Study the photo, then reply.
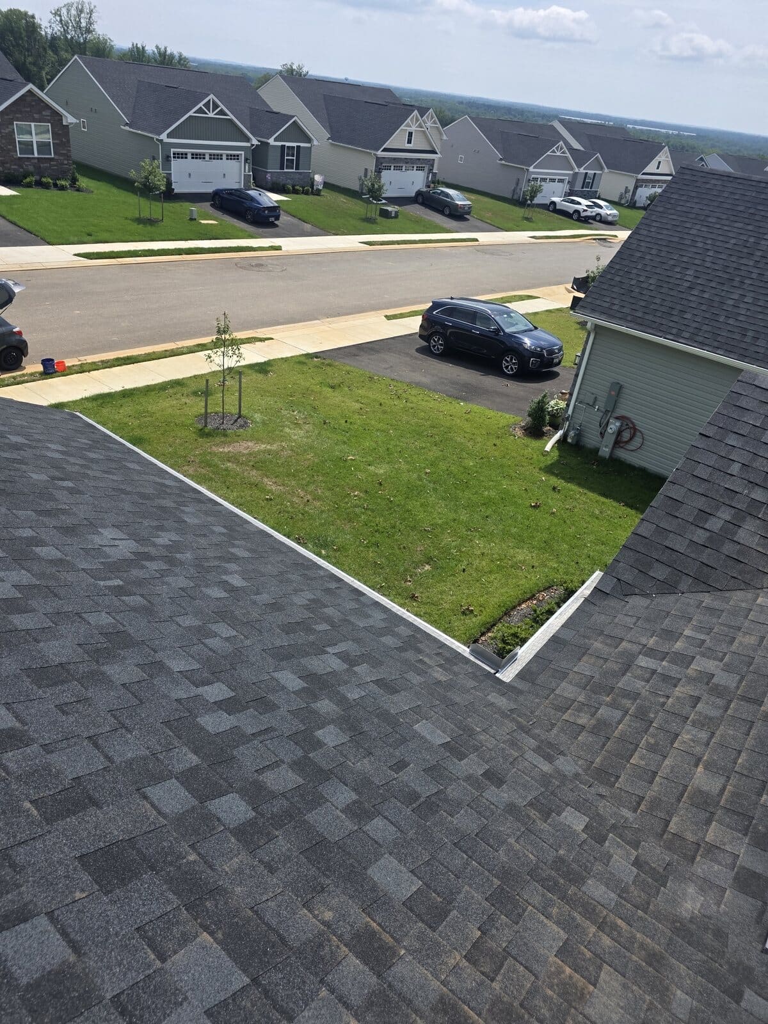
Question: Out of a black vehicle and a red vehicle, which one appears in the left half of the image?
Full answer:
Visible in the left half of the image is a black vehicle.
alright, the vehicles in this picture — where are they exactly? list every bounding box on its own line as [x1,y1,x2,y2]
[413,187,470,212]
[545,196,594,219]
[213,189,287,222]
[585,200,616,221]
[418,297,571,377]
[0,278,28,370]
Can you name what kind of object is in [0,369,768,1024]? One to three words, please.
house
